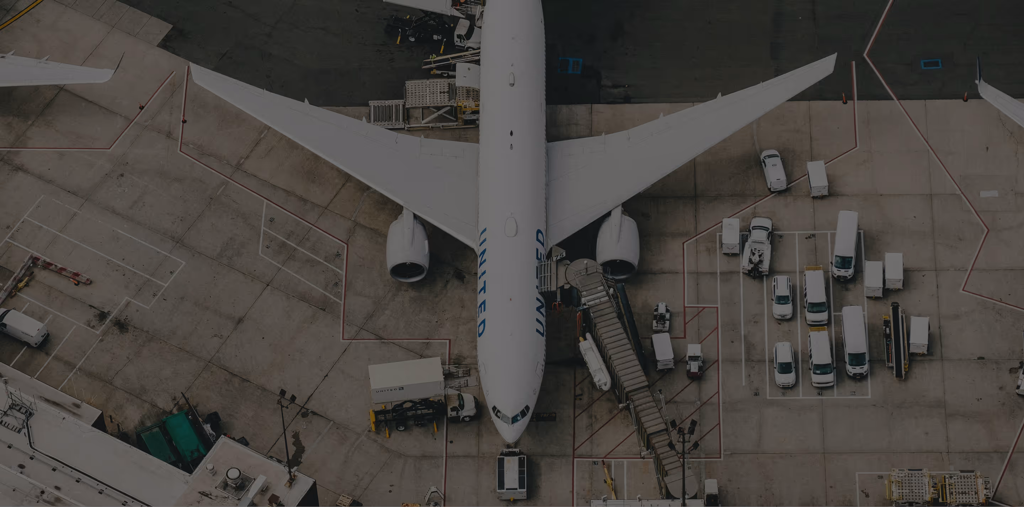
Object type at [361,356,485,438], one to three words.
truck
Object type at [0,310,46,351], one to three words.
van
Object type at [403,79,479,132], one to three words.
work vehicle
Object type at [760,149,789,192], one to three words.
car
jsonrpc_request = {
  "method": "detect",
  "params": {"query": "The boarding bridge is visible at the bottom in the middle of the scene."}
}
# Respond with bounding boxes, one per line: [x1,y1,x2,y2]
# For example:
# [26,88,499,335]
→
[540,245,699,499]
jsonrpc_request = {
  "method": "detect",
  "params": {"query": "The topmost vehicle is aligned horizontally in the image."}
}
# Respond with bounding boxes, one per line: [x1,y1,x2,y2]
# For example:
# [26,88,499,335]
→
[375,0,483,49]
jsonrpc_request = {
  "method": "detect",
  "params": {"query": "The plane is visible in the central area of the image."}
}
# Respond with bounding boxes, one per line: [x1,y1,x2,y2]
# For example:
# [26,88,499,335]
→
[190,0,837,445]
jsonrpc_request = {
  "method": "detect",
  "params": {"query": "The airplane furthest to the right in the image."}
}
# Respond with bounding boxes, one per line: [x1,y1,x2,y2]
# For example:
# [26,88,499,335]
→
[975,56,1024,126]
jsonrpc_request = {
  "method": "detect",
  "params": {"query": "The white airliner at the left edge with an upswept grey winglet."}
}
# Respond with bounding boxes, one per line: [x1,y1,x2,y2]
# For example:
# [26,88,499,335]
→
[0,49,125,86]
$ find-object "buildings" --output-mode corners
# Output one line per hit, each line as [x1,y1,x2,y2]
[590,498,705,507]
[0,361,317,507]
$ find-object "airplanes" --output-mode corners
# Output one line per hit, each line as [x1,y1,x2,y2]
[975,56,1024,126]
[0,49,125,86]
[190,0,837,445]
